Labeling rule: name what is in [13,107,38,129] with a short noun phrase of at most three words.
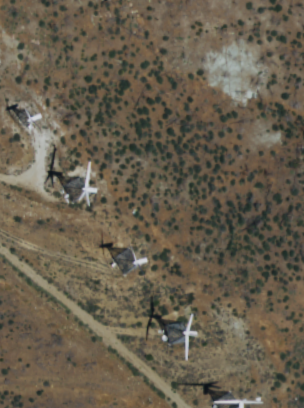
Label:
wind turbine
